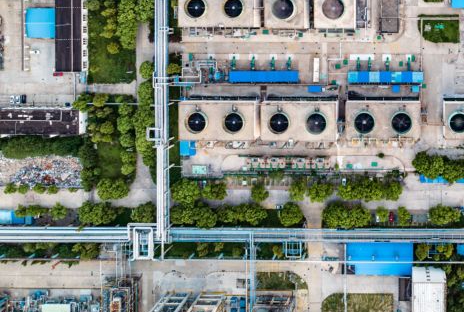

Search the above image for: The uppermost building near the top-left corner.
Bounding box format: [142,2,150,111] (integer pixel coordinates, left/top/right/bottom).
[55,0,92,71]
